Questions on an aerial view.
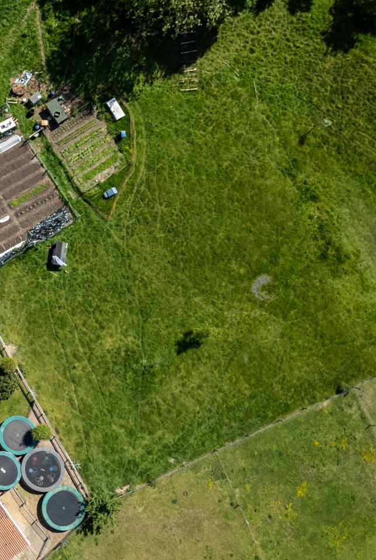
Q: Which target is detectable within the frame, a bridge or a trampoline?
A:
trampoline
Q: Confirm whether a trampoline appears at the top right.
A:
No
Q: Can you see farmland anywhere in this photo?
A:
Yes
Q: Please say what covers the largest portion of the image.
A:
grass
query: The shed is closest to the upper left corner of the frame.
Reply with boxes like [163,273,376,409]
[43,99,69,128]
